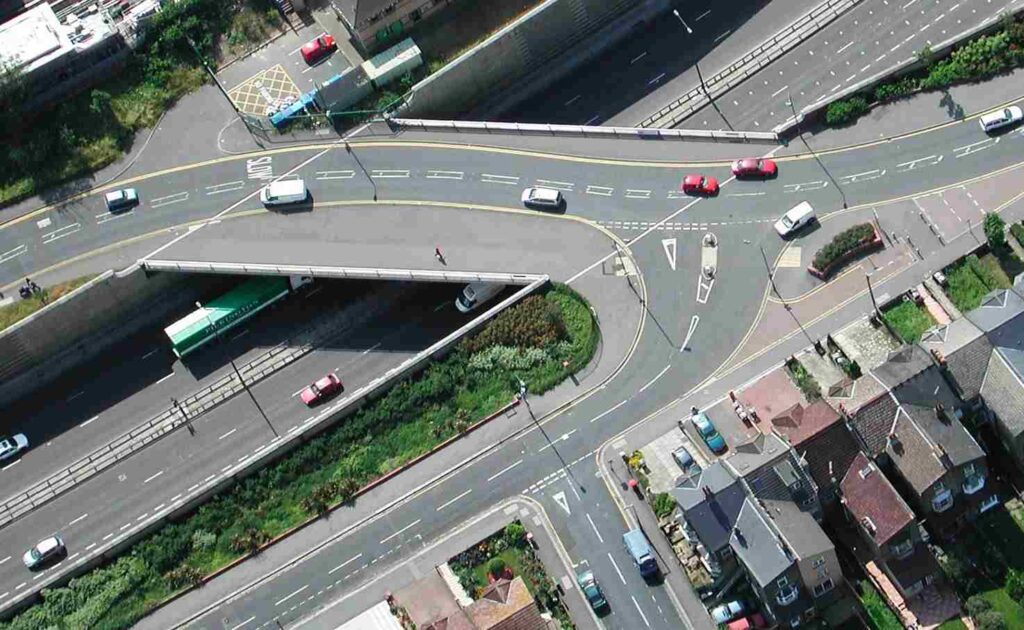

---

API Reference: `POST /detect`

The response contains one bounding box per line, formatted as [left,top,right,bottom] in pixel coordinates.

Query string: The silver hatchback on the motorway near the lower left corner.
[26,539,65,568]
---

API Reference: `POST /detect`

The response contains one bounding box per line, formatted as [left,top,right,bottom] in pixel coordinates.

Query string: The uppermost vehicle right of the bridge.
[979,106,1024,131]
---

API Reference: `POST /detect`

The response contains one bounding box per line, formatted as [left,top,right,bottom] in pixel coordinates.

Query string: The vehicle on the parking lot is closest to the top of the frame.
[300,35,336,59]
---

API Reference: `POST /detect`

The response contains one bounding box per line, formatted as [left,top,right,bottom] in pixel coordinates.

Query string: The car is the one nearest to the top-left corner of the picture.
[106,189,139,210]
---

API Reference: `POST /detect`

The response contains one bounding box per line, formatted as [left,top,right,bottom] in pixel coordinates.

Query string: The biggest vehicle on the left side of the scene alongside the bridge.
[166,272,311,358]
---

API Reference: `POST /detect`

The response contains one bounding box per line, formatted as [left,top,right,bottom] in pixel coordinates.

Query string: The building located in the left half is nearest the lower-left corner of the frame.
[333,600,405,630]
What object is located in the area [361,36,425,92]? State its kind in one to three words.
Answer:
building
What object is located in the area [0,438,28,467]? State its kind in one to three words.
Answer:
car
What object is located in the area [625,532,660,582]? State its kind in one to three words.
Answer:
van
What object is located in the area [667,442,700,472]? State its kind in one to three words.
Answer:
car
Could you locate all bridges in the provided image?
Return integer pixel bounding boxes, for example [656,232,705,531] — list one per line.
[142,114,788,287]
